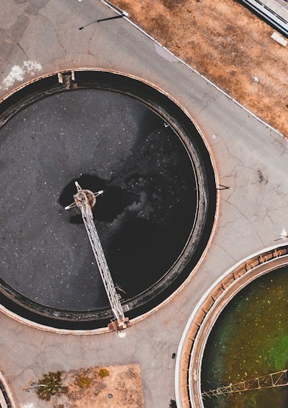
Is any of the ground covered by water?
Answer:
Yes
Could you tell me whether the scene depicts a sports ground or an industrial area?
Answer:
industrial area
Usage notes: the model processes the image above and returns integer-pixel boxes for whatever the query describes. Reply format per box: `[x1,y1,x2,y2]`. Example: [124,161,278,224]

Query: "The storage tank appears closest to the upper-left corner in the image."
[0,67,221,334]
